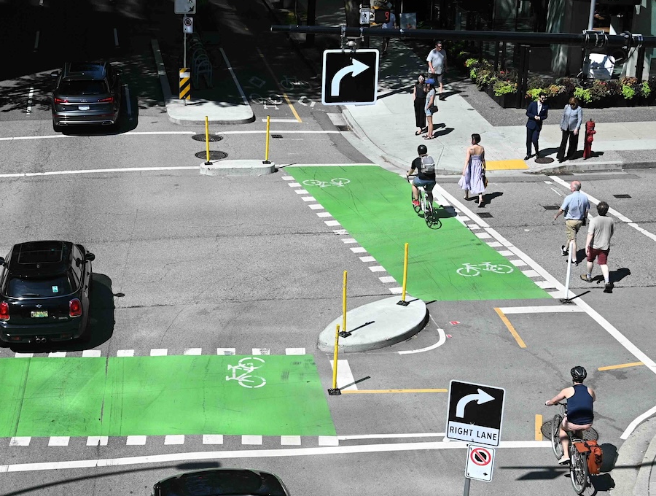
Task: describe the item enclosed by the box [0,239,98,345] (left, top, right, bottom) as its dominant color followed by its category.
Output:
black car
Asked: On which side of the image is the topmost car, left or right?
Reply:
left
